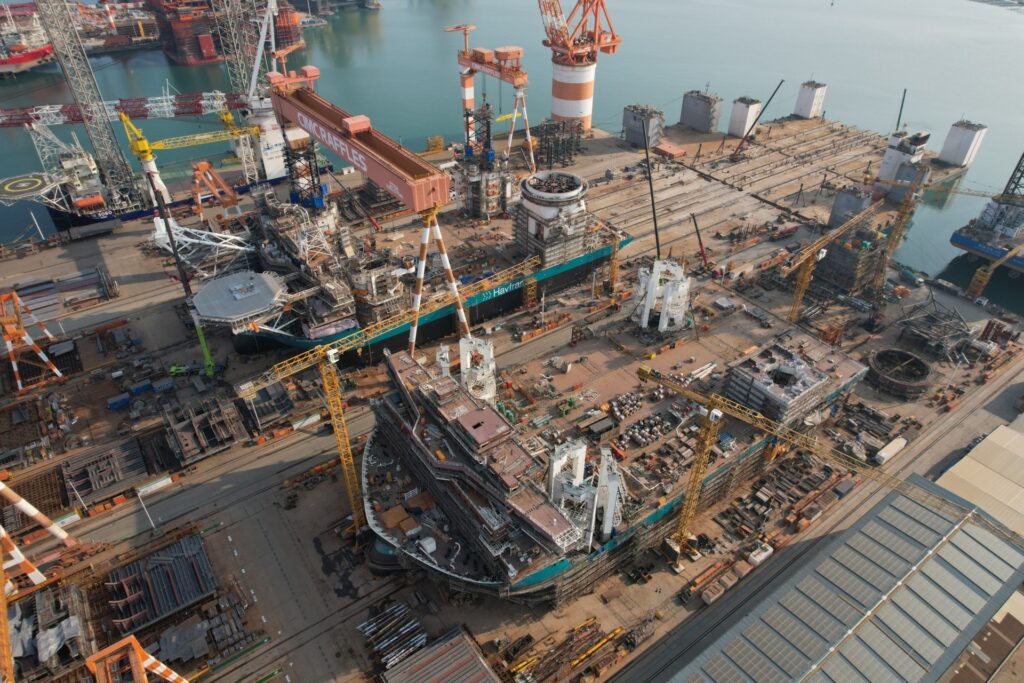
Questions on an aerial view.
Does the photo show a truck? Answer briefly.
Yes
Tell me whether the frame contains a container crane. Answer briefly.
Yes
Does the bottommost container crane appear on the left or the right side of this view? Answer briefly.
left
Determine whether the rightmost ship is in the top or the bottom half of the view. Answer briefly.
top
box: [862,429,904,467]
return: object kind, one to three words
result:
truck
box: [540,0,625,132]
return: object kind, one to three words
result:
crane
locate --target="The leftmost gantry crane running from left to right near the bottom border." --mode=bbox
[75,624,208,683]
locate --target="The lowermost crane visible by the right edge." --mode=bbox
[635,369,1024,572]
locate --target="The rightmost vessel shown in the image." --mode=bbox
[934,131,1024,288]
